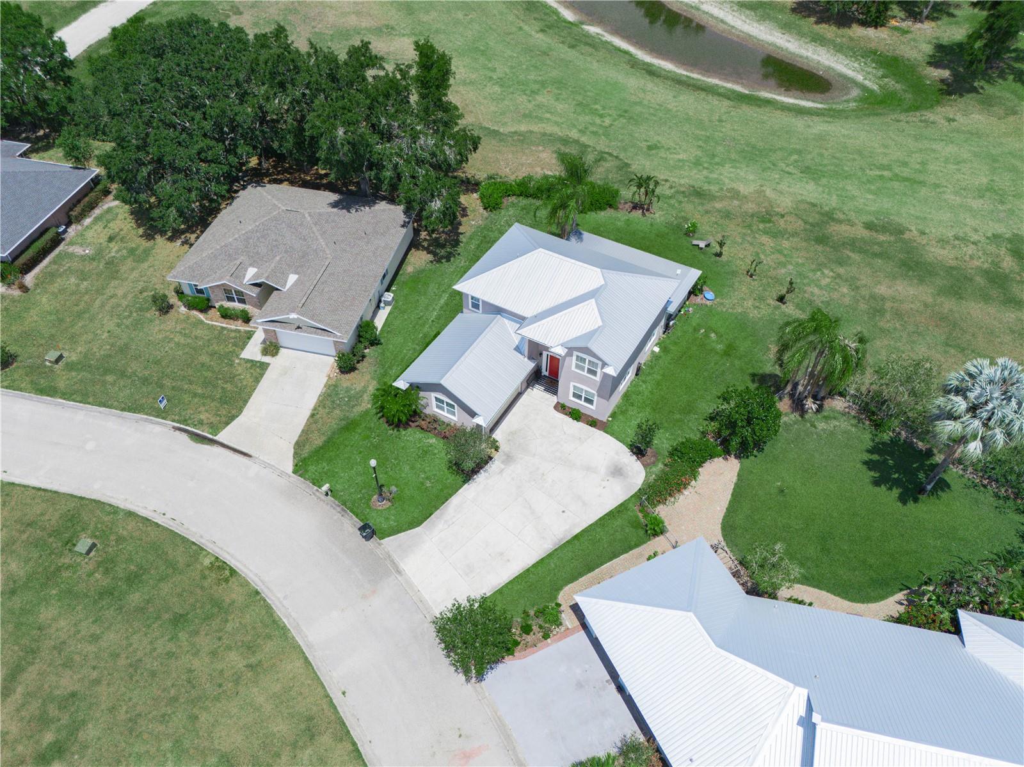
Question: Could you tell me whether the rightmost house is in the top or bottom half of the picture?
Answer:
bottom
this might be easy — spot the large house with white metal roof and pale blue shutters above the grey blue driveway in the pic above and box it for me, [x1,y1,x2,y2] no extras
[573,537,1024,767]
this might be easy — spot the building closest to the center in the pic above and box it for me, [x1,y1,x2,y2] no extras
[390,222,700,442]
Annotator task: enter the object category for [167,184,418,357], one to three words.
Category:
house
